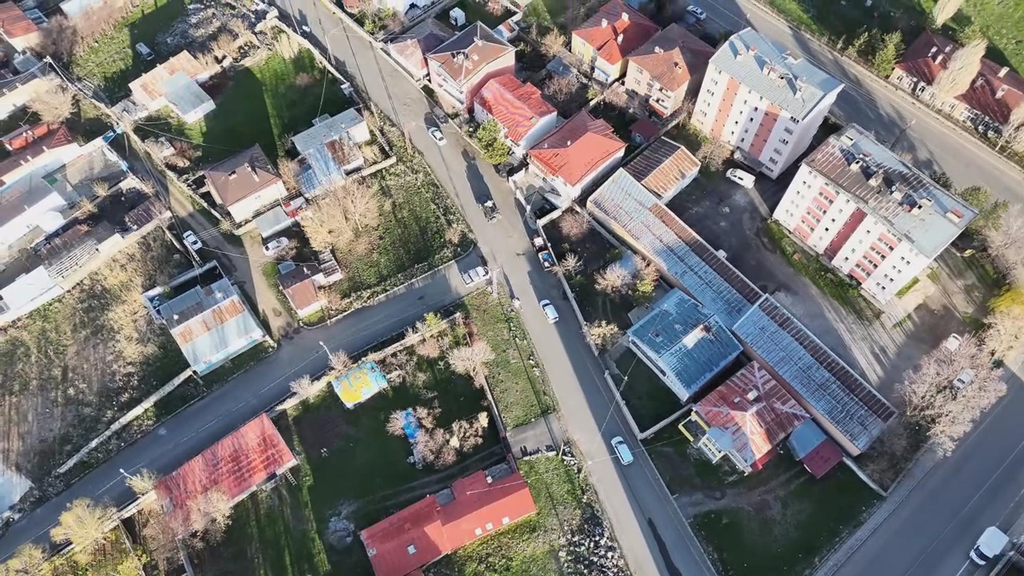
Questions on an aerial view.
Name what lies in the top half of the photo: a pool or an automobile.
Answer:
automobile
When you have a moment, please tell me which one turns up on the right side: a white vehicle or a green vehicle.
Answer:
white vehicle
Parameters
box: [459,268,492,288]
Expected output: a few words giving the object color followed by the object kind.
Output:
white vehicle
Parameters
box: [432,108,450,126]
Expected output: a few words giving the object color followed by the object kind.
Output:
gray car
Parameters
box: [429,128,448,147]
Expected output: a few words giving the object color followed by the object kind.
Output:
white car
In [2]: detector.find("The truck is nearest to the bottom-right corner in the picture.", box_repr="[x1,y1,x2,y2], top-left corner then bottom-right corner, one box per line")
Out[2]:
[966,524,1013,566]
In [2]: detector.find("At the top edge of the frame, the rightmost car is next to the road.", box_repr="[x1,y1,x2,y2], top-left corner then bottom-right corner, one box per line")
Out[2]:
[685,6,707,22]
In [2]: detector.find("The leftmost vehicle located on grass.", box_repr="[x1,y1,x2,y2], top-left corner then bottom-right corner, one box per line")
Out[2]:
[136,41,156,60]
